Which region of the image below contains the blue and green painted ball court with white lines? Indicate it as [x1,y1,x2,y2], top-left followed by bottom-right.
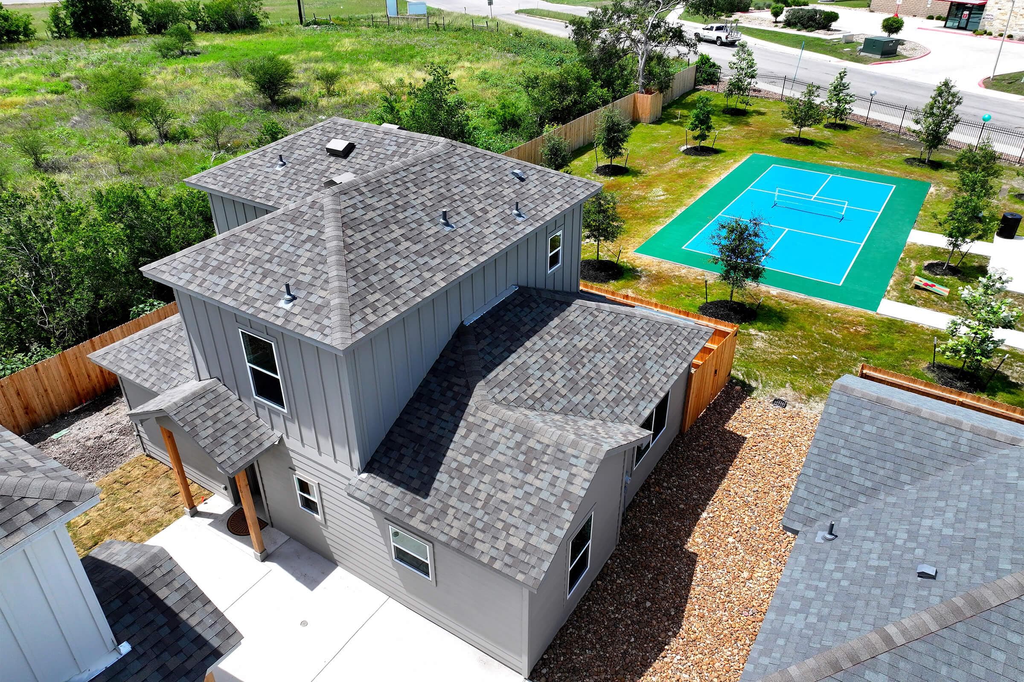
[630,154,932,316]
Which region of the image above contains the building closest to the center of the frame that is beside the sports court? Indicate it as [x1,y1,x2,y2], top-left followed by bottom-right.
[86,116,717,682]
